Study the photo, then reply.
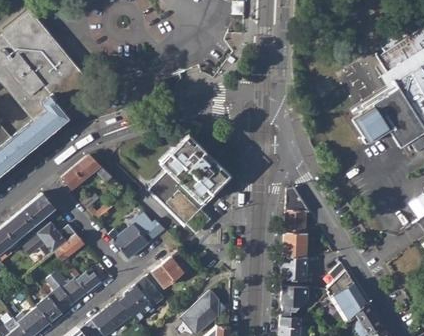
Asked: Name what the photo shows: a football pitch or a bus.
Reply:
bus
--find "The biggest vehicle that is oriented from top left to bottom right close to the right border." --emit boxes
[395,210,410,226]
